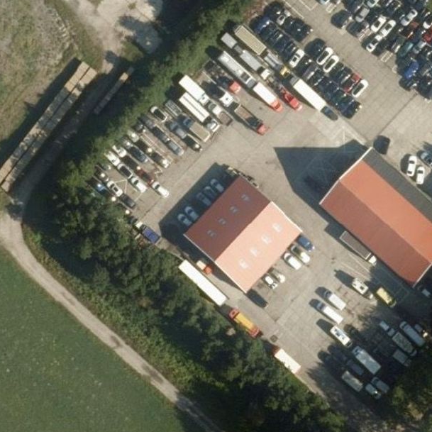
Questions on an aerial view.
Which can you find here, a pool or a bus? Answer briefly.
bus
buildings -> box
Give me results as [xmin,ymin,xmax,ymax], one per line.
[320,147,432,288]
[183,174,303,293]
